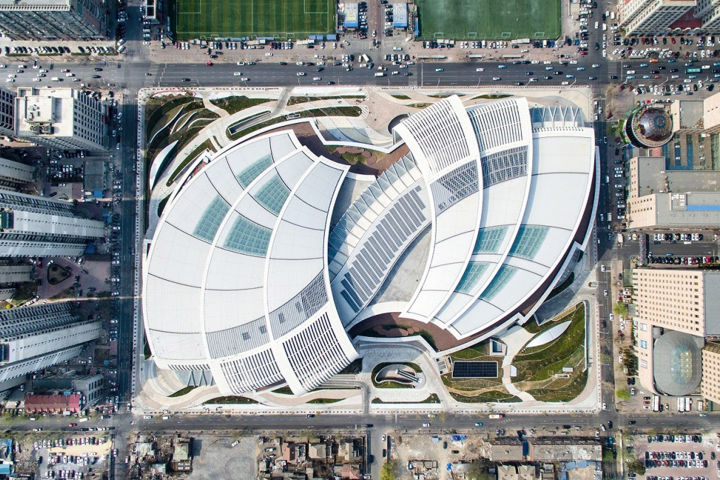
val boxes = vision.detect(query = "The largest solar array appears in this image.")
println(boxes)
[451,361,498,379]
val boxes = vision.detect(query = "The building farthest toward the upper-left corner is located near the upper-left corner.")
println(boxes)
[0,0,105,44]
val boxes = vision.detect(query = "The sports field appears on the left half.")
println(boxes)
[176,0,335,40]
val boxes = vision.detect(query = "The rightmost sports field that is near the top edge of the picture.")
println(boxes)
[417,0,562,40]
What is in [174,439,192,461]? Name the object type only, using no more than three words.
house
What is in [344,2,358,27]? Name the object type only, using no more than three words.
shed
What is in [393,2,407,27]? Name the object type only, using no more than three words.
shed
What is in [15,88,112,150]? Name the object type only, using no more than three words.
building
